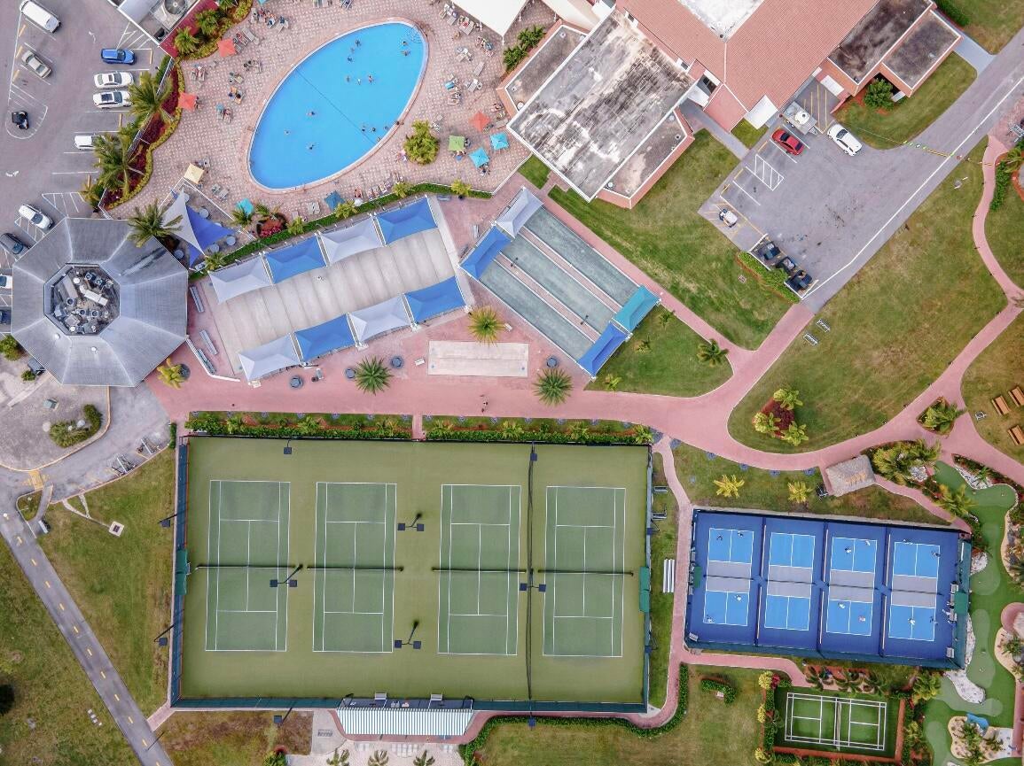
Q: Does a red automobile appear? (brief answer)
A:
Yes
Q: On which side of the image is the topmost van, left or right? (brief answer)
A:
left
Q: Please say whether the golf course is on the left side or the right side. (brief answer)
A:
right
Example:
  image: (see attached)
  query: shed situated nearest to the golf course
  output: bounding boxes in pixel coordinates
[821,455,874,497]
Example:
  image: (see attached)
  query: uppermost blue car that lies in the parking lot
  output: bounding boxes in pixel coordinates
[100,46,137,66]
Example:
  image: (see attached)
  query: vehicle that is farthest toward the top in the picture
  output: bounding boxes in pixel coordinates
[13,0,69,40]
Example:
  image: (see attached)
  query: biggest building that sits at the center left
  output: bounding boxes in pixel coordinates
[10,217,189,387]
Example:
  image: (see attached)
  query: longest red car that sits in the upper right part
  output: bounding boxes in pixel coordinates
[769,127,805,157]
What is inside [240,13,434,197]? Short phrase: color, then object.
blue swimming pool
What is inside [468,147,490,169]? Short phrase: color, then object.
blue umbrella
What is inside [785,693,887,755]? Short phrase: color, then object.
green sports court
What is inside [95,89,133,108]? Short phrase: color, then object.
white car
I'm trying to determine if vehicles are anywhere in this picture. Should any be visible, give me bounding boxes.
[0,229,31,257]
[20,50,56,80]
[11,108,31,130]
[825,124,862,155]
[757,244,777,262]
[13,0,69,40]
[788,272,810,291]
[769,127,805,157]
[95,89,133,108]
[97,70,134,88]
[0,273,11,290]
[74,132,111,150]
[0,310,10,324]
[18,201,55,232]
[100,46,137,66]
[776,254,798,272]
[28,359,45,373]
[718,211,738,226]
